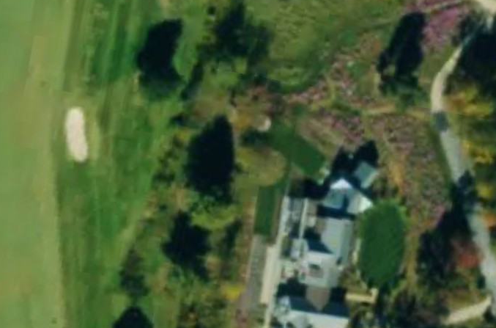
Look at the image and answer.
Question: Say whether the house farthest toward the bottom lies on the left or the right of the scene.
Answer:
right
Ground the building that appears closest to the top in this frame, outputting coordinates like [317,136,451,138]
[353,162,379,190]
